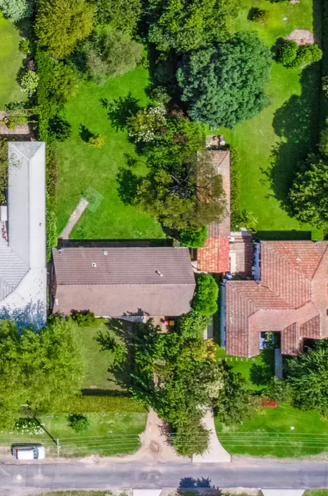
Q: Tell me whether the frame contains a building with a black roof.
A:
No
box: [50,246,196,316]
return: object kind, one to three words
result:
house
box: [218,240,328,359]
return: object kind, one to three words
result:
house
